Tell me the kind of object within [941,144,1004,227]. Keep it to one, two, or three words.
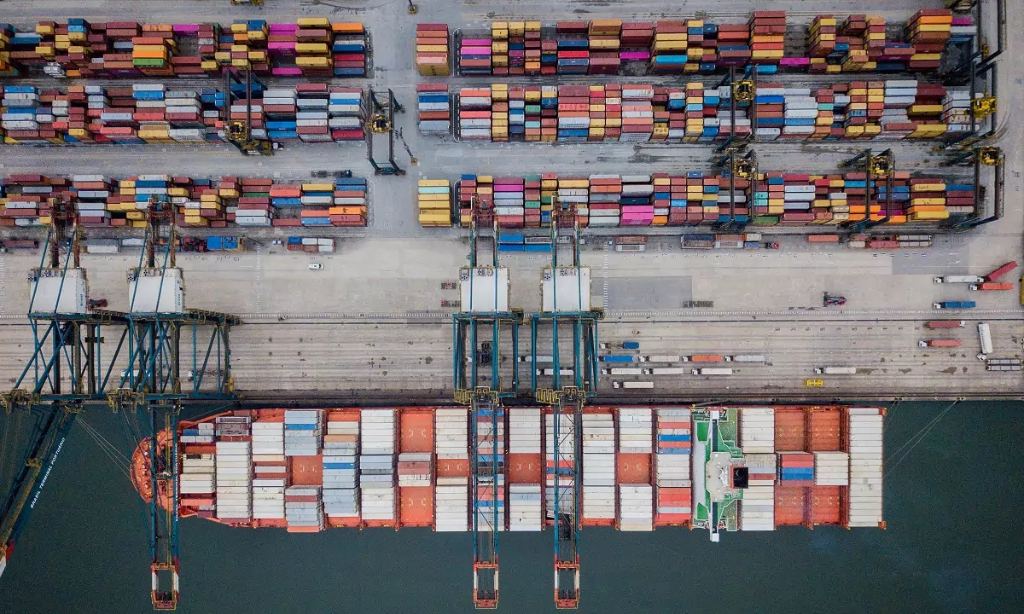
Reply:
container crane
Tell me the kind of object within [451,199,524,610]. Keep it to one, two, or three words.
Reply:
container crane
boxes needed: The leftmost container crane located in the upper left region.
[223,70,272,156]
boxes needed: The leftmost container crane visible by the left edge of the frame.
[0,199,151,563]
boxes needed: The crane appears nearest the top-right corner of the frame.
[942,0,1005,73]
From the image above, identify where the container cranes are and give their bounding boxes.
[941,144,1004,227]
[0,199,151,563]
[368,88,406,173]
[713,66,758,152]
[530,199,606,610]
[451,199,524,610]
[223,70,272,156]
[839,147,893,228]
[103,199,246,610]
[942,0,1005,73]
[937,64,1000,151]
[713,149,758,230]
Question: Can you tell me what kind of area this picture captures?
port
